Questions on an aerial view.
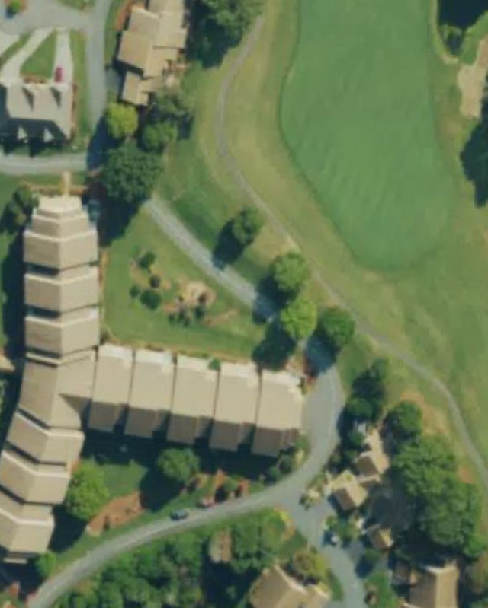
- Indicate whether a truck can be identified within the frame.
No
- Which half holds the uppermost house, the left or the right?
left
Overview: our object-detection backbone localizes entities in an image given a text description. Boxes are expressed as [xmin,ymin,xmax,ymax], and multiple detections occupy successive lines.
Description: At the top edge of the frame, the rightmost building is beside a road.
[115,0,189,107]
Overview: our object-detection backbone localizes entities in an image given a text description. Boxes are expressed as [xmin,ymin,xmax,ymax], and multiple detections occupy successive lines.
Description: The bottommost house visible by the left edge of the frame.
[0,491,56,565]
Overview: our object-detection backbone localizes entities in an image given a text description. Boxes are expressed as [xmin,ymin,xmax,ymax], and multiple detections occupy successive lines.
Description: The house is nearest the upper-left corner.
[0,82,74,142]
